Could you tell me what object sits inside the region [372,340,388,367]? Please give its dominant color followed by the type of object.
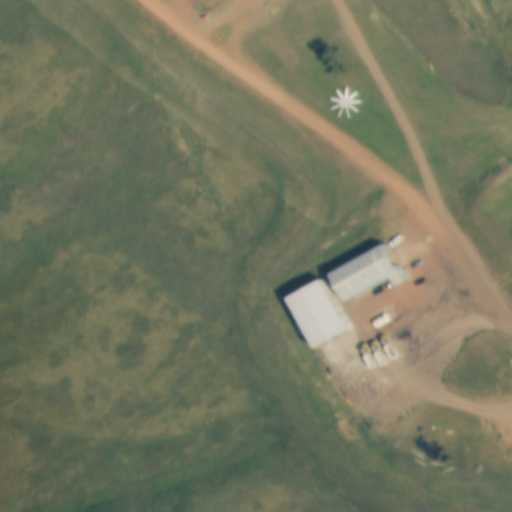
white vehicle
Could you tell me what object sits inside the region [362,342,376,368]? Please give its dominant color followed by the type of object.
white vehicle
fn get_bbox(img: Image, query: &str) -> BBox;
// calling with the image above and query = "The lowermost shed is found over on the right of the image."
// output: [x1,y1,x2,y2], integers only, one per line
[284,280,353,348]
